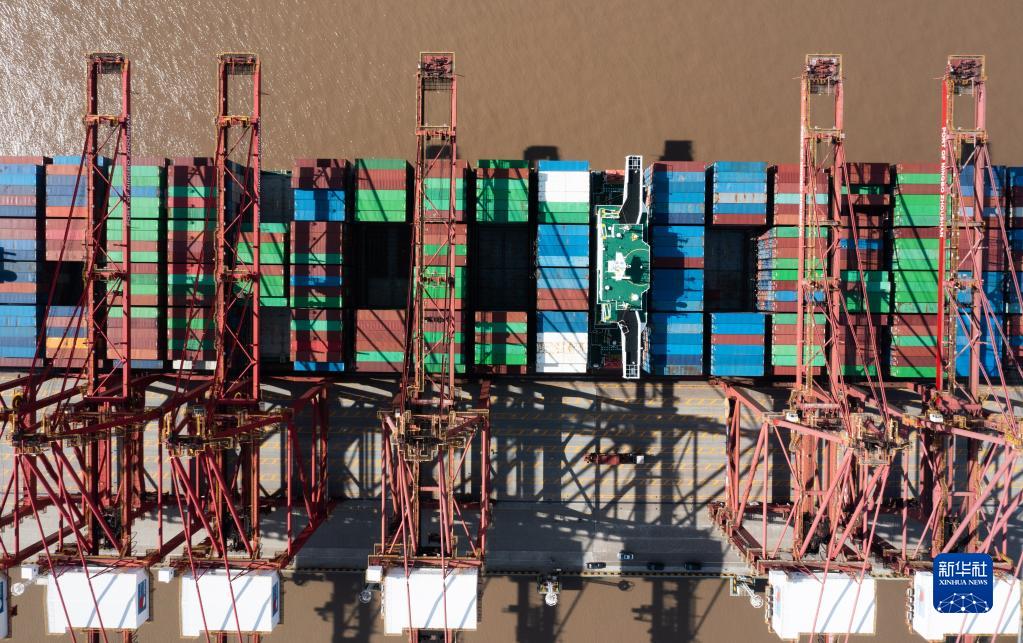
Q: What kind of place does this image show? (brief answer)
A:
port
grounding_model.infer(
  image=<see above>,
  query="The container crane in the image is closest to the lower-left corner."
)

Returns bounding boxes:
[0,371,131,623]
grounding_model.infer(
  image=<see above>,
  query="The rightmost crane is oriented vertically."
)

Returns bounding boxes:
[809,55,1023,643]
